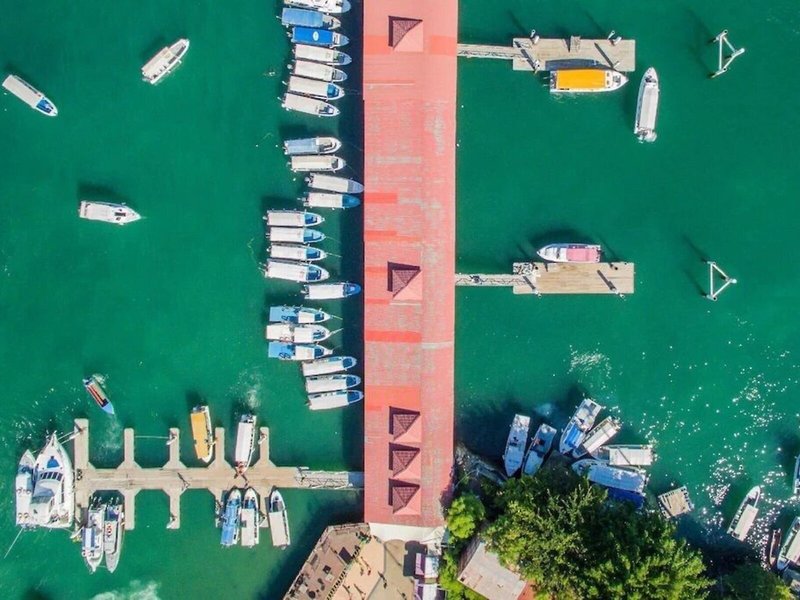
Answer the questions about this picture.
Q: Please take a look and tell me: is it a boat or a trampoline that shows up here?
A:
boat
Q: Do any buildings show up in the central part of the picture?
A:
Yes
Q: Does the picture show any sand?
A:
No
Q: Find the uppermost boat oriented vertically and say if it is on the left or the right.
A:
right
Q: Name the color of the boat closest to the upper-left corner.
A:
white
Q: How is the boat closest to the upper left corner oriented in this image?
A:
at an angle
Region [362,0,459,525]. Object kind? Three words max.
building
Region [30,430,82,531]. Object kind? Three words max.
boat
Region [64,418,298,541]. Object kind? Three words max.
pier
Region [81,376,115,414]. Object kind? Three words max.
boat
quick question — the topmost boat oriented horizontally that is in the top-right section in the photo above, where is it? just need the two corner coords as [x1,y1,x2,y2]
[541,68,629,98]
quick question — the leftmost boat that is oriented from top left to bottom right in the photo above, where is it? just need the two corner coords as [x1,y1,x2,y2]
[2,73,60,115]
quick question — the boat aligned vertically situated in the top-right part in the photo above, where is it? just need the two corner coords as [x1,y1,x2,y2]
[631,66,660,139]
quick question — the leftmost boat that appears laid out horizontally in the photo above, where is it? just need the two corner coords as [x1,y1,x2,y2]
[77,203,143,226]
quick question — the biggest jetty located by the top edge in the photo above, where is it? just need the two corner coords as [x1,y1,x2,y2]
[512,24,636,73]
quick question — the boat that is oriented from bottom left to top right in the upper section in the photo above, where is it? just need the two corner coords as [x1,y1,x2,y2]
[145,40,191,84]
